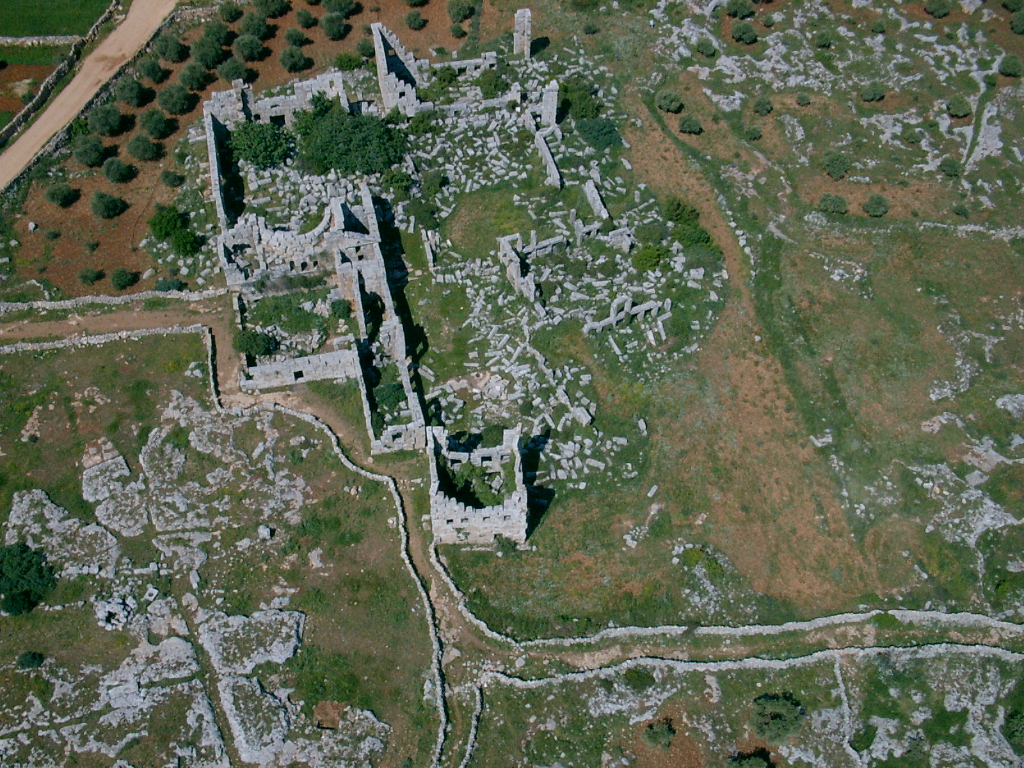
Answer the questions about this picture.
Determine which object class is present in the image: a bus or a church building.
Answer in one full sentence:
I can see a church building in this picture.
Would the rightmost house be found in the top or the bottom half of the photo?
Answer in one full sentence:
It is in the top half that the rightmost house appears.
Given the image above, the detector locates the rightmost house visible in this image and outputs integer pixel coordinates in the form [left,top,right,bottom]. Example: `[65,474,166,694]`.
[498,229,567,303]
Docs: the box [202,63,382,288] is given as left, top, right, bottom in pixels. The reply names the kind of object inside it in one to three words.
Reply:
church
